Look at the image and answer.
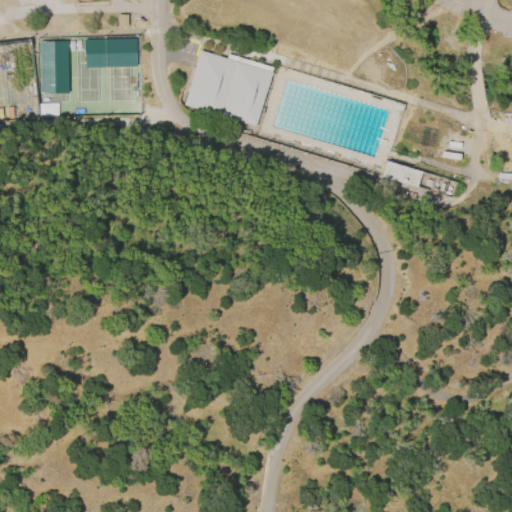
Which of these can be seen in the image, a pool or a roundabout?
pool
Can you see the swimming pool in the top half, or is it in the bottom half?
top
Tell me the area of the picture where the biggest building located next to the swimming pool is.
top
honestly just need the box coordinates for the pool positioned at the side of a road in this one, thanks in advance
[256,67,408,173]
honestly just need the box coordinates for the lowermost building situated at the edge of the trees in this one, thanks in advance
[383,160,424,188]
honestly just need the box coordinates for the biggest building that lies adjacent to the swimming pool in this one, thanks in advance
[187,50,274,127]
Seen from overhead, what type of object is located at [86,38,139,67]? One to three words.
building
